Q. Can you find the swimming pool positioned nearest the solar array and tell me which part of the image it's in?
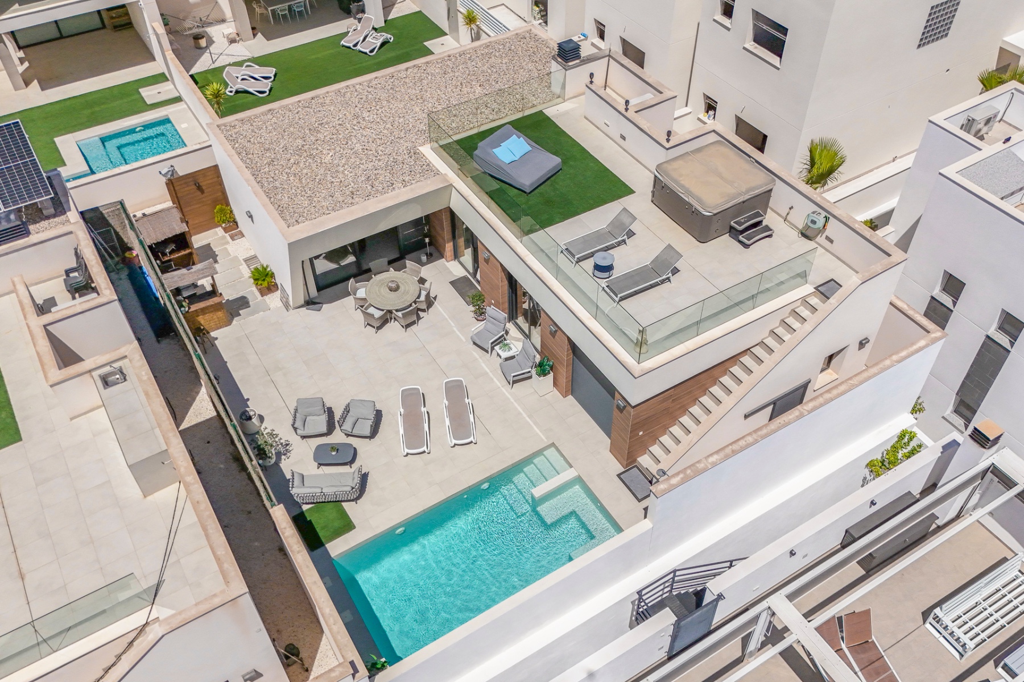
top left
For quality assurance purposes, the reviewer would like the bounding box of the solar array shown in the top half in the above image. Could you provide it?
[0,119,56,223]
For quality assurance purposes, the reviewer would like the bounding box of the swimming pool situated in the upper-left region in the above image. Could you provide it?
[66,118,184,181]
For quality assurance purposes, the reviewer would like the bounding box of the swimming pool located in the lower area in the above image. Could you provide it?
[333,446,622,660]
